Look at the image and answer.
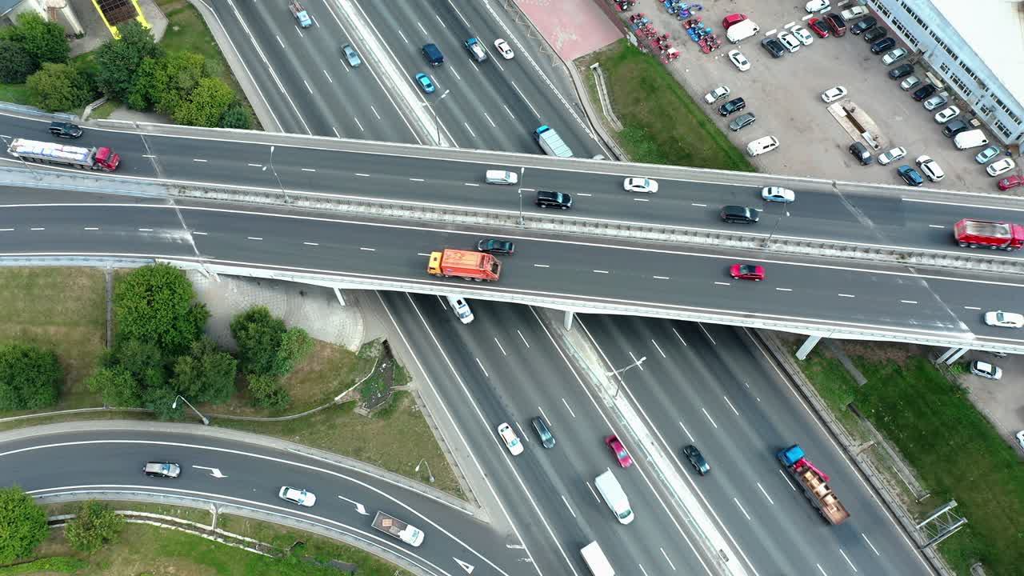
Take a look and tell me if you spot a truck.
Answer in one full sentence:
Yes, a truck is visible in the scene.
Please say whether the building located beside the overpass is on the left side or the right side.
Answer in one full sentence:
You can find the building located beside the overpass on the right side of the picture.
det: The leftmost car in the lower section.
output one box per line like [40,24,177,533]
[141,460,183,479]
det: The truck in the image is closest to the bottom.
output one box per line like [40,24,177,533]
[578,540,617,576]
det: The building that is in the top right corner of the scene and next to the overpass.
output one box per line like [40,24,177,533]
[869,0,1024,152]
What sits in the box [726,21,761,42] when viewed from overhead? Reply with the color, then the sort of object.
white vehicle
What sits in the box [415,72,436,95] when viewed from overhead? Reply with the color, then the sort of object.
blue car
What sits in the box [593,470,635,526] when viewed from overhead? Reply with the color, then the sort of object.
white van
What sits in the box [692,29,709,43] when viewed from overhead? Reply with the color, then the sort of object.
blue work vehicle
